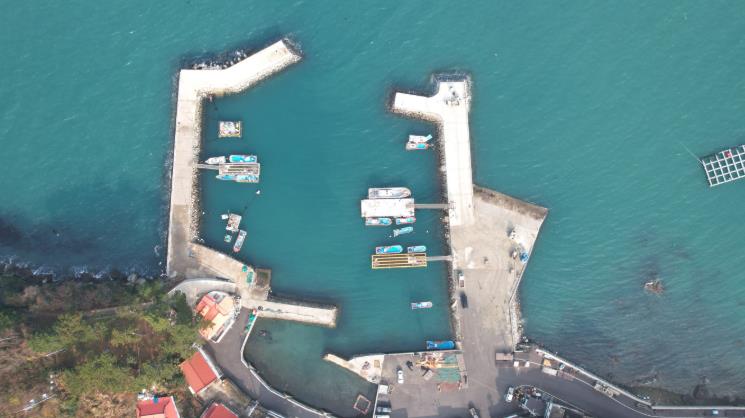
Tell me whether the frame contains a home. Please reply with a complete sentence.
Yes, a home is visible in the scene.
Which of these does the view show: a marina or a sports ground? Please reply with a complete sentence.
This looks like a marina.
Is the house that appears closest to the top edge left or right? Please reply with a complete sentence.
It is on the left.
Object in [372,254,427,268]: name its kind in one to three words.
pier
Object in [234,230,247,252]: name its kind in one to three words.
boat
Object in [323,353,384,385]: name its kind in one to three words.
pier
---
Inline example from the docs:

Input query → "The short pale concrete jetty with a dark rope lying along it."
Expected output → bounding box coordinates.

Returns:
[241,297,337,328]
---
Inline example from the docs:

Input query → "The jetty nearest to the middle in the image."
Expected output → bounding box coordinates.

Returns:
[361,199,414,217]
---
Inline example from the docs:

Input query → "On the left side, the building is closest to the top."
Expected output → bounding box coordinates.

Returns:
[193,290,242,342]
